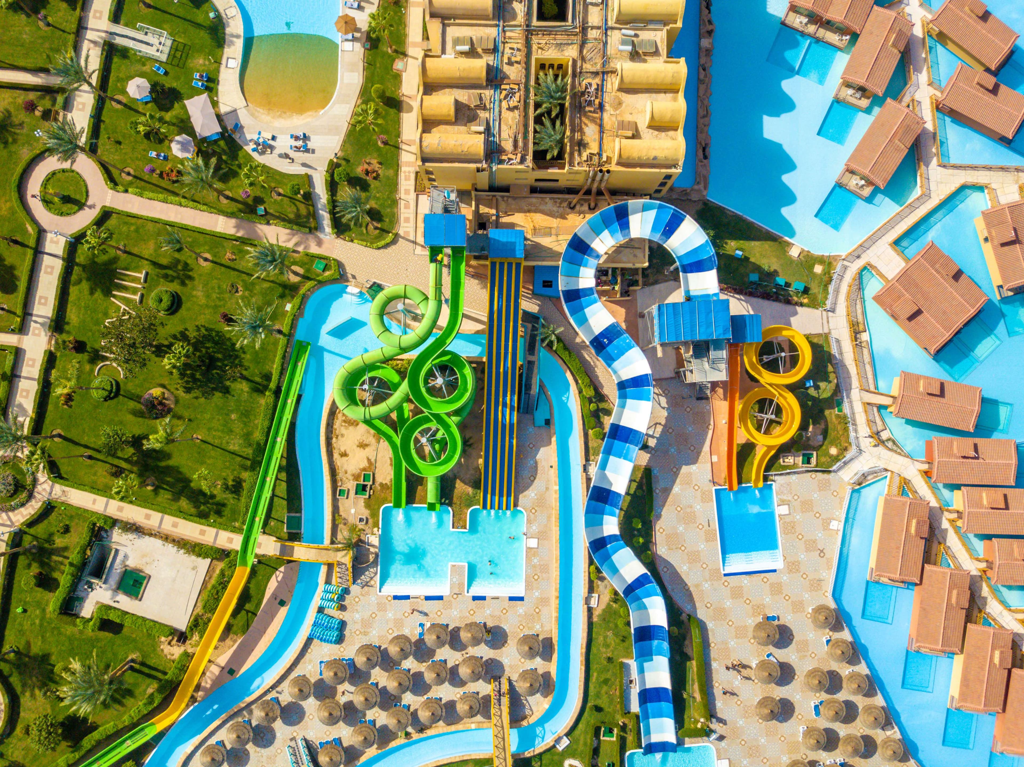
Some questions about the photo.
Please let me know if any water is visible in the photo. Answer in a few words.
Yes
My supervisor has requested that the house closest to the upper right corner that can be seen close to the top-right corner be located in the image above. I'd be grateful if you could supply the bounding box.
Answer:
[925,0,1021,75]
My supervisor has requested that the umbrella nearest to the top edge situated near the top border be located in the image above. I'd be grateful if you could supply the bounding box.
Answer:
[335,13,357,36]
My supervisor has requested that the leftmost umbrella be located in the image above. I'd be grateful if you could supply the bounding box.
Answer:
[126,76,153,100]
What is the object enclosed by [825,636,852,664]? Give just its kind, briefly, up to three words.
umbrella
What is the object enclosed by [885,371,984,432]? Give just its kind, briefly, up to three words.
house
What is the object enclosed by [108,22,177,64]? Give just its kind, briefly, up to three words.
building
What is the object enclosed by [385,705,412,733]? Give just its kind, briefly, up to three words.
umbrella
